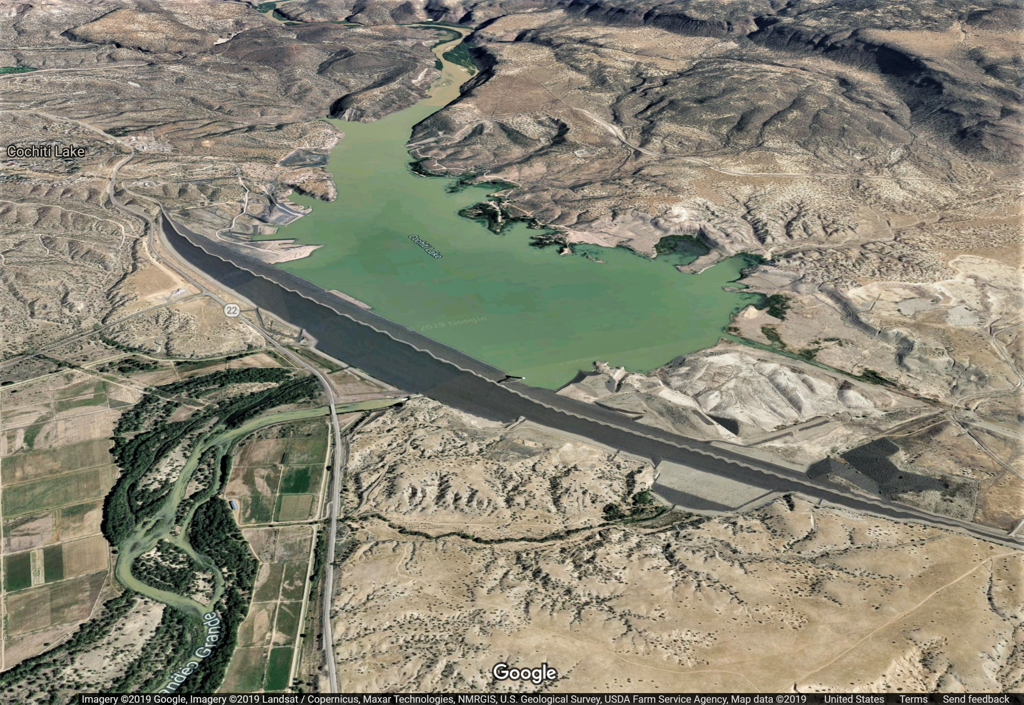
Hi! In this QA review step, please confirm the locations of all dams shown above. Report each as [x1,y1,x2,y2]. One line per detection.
[158,204,1024,556]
